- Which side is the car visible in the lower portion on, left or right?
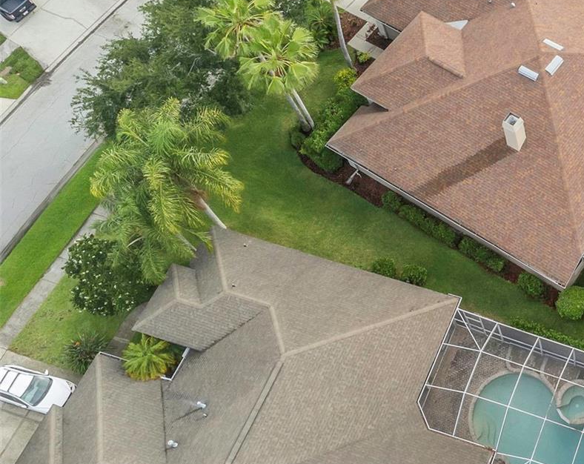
left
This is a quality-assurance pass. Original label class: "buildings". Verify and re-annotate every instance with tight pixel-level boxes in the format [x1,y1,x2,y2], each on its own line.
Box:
[326,0,584,293]
[15,225,494,464]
